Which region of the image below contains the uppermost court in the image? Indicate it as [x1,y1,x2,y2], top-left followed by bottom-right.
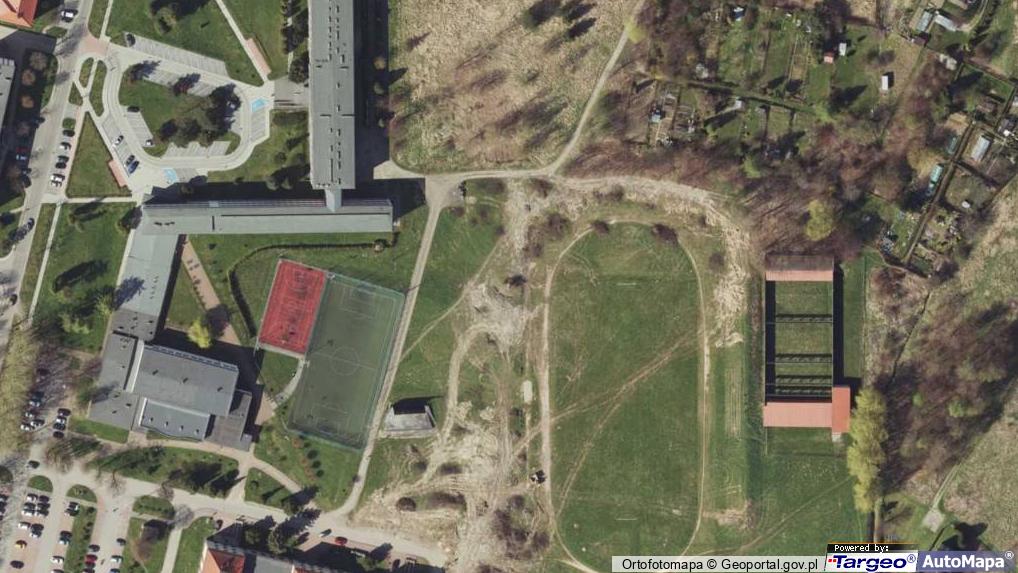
[256,259,328,360]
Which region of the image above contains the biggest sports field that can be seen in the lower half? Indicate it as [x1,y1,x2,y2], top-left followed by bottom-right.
[551,227,702,570]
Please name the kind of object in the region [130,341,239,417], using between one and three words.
building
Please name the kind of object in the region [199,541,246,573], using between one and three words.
house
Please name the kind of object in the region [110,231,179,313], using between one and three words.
building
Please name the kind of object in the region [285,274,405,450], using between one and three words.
soccer field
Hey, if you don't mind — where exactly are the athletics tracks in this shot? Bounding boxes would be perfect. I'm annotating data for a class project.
[541,217,712,573]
